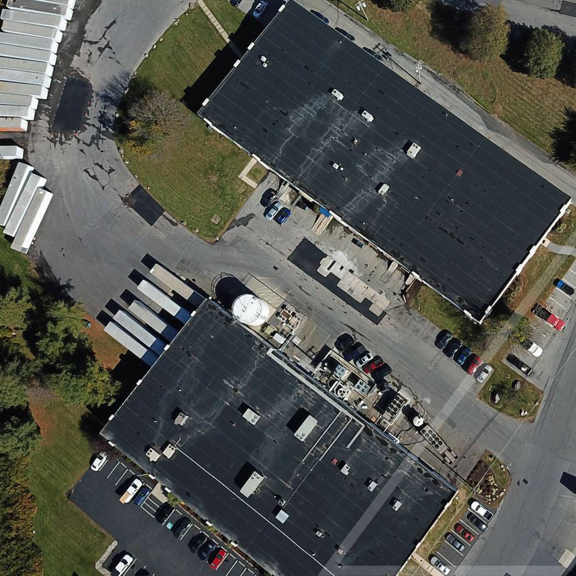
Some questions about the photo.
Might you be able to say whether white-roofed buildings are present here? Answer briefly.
No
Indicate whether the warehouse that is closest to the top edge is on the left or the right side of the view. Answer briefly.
right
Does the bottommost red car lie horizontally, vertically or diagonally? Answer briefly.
diagonally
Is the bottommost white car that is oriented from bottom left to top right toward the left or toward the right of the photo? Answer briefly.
left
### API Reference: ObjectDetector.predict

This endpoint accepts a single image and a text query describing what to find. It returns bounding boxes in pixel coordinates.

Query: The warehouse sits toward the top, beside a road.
[197,0,571,324]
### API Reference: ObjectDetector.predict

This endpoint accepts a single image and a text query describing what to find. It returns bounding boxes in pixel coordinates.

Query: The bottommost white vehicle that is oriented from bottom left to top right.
[114,555,135,576]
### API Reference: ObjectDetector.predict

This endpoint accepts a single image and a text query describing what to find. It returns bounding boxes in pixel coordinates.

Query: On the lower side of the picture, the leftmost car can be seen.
[90,450,110,473]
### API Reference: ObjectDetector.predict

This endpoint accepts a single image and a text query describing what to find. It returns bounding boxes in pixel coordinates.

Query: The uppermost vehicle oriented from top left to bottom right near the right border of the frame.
[553,277,576,298]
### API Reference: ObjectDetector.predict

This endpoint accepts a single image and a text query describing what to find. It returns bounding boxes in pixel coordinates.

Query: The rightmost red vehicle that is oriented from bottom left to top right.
[463,354,483,375]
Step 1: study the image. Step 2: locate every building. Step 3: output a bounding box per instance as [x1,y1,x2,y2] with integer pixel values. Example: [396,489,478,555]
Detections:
[197,0,571,324]
[101,299,461,576]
